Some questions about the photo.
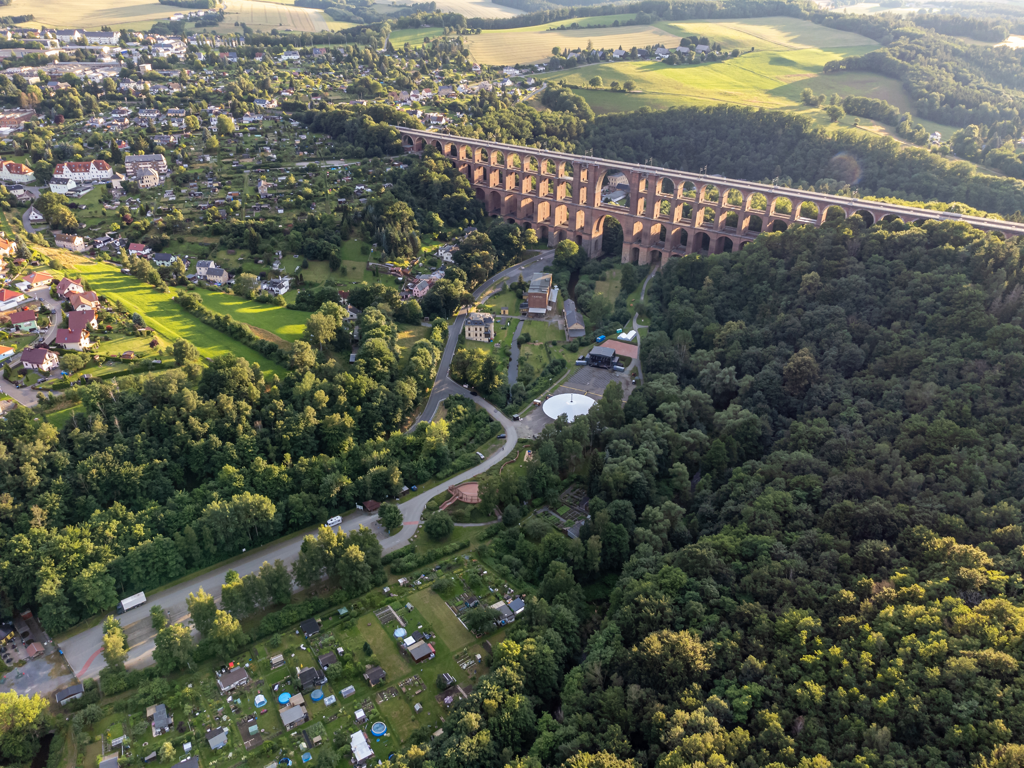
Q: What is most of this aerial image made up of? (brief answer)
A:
trees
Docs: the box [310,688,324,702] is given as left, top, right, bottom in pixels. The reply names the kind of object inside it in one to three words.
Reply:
swimming pool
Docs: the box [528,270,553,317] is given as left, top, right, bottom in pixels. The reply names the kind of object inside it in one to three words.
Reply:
building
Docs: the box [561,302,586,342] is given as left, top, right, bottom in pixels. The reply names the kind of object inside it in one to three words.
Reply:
barn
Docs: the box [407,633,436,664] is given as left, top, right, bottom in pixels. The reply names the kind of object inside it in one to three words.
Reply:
house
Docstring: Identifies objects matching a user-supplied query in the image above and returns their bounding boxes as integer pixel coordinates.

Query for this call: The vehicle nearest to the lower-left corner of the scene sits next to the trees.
[115,591,145,612]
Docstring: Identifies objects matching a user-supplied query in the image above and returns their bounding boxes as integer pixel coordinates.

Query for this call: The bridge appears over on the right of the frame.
[379,125,1024,267]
